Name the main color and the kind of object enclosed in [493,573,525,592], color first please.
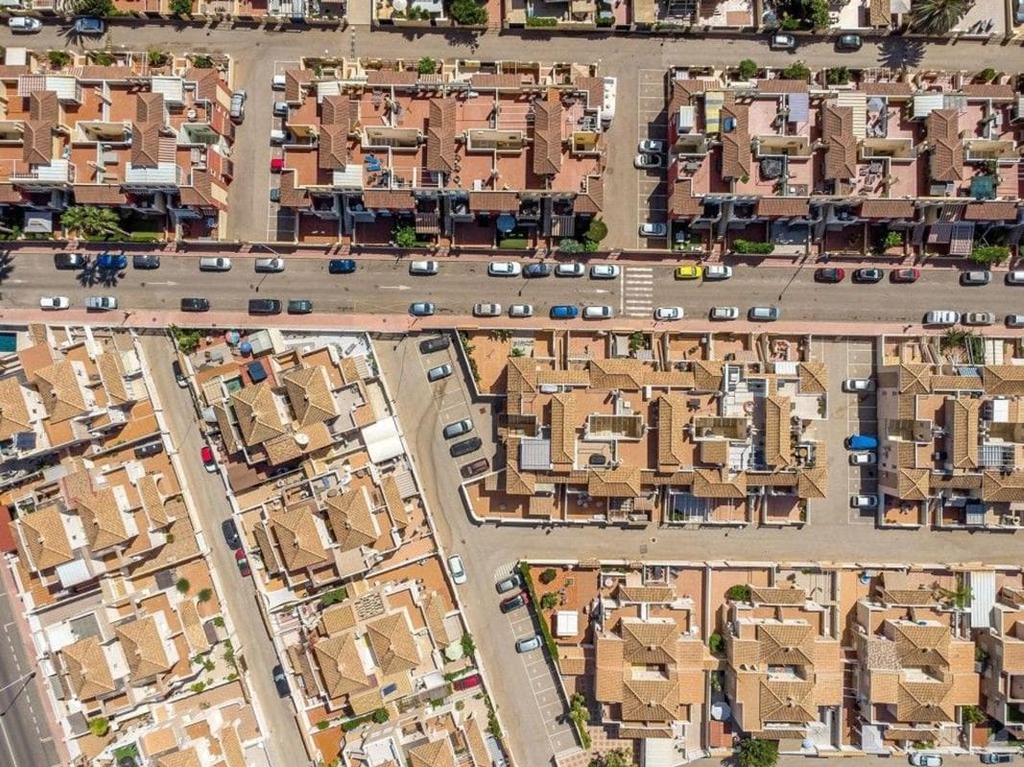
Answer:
gray car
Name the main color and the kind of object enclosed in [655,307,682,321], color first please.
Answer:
white car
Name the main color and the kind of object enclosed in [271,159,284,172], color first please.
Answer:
red vehicle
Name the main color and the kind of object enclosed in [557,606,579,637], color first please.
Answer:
white gazebo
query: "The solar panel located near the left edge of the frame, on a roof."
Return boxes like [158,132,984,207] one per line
[13,430,38,453]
